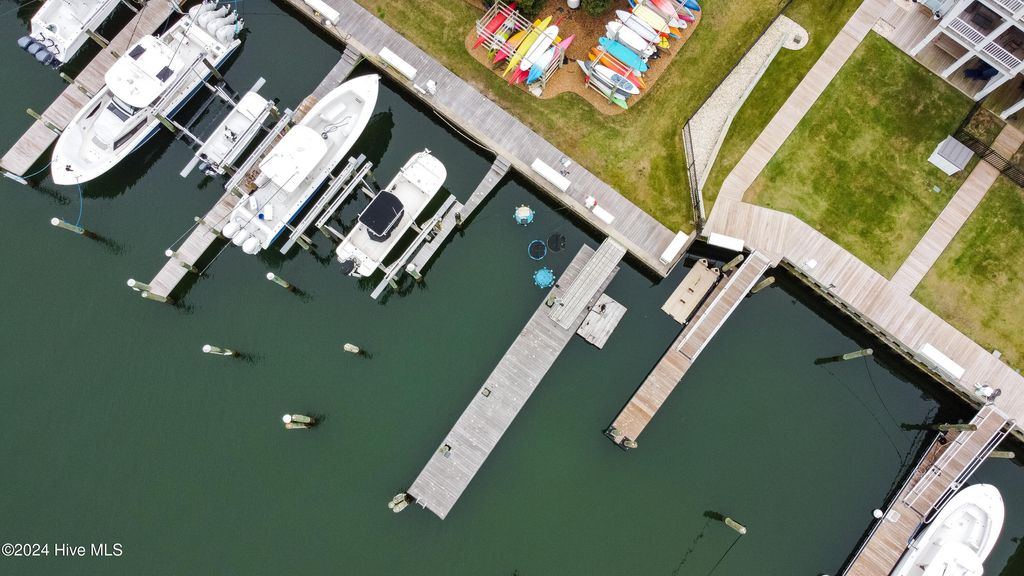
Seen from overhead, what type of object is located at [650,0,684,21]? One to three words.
boat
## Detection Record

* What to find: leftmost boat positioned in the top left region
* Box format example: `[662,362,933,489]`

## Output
[16,0,139,81]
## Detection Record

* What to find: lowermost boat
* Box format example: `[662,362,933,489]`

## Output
[893,483,1003,576]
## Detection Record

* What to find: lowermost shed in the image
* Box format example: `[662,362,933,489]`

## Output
[928,133,979,175]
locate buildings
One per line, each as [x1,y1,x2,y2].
[928,133,979,175]
[873,0,1024,137]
